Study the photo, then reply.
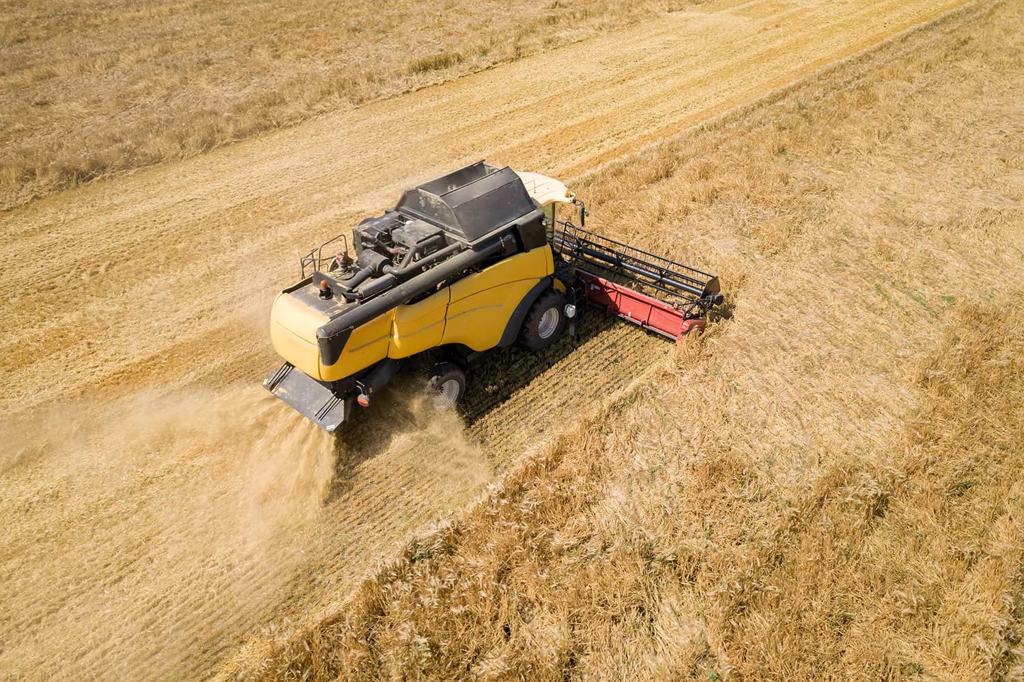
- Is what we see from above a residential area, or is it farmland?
farmland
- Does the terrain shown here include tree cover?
No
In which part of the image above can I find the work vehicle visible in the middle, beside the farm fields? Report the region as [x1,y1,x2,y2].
[264,158,725,436]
